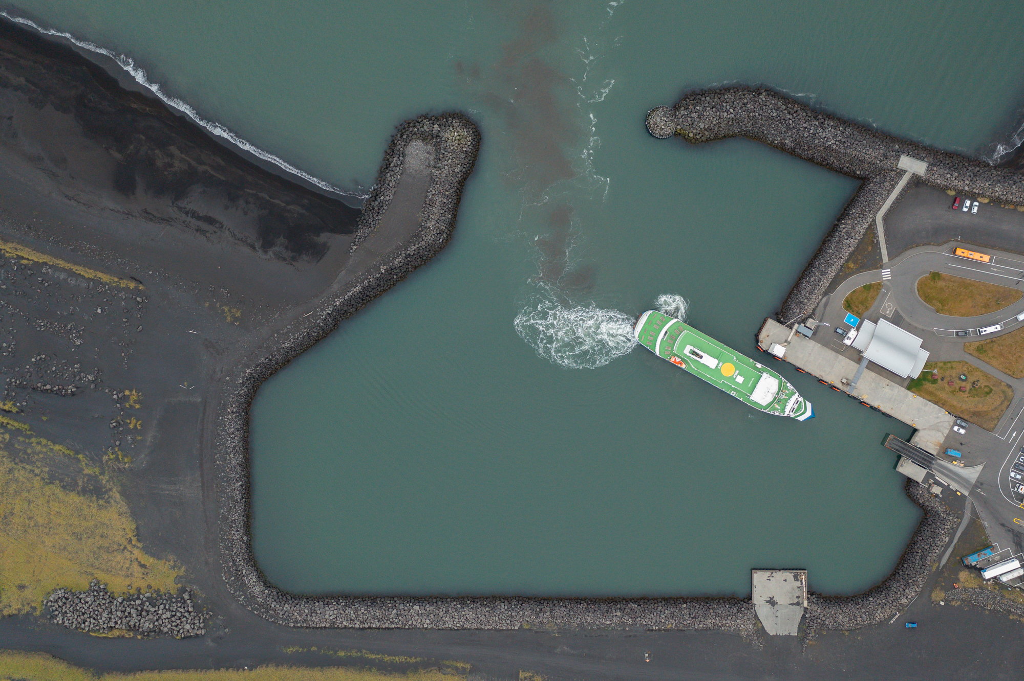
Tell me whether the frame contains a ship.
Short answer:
Yes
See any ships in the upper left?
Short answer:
No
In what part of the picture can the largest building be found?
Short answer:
right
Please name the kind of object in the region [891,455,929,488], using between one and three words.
pier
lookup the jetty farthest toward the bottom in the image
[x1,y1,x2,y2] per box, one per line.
[749,567,809,637]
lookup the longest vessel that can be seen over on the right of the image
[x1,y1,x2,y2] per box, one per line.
[633,310,816,421]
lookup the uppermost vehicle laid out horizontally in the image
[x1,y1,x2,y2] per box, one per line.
[952,246,991,262]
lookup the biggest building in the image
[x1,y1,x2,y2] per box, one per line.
[849,318,930,379]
